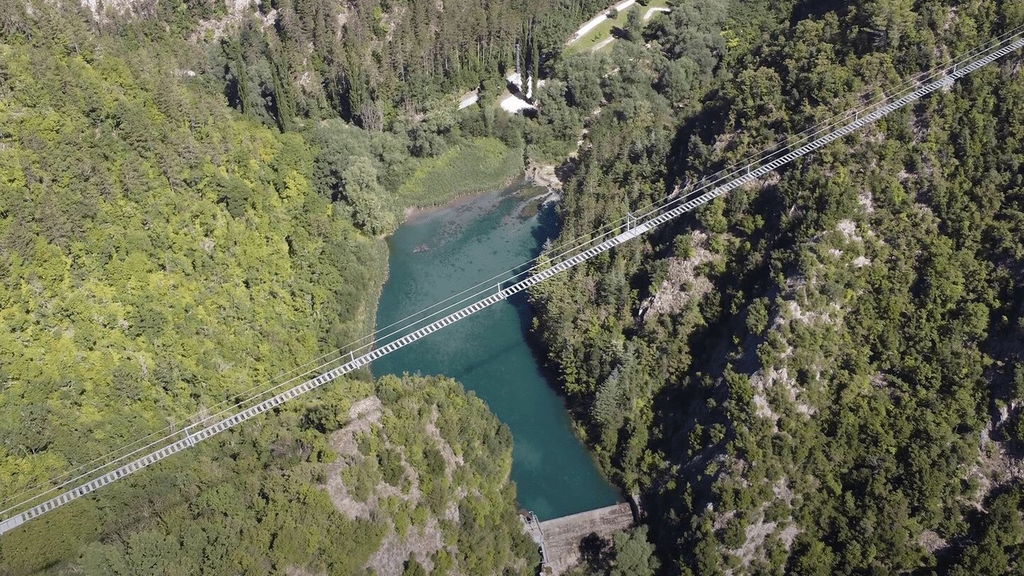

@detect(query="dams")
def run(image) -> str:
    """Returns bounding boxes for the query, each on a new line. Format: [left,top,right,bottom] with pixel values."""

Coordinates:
[524,502,634,576]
